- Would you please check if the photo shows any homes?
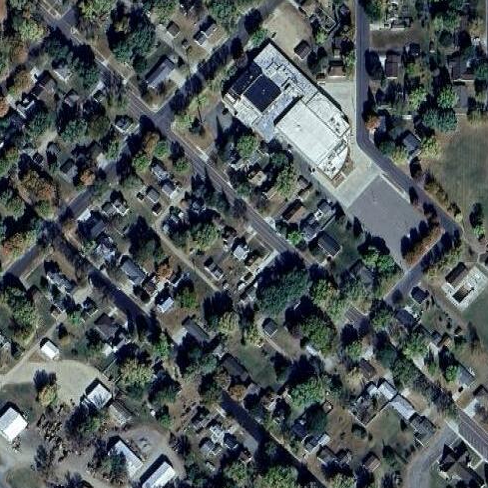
Yes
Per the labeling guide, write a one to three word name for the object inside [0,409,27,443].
building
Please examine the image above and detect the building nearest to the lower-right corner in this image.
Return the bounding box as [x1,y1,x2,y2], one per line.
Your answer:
[438,446,483,486]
